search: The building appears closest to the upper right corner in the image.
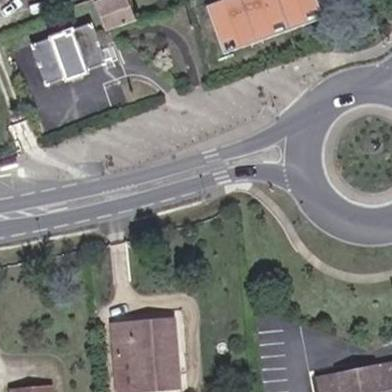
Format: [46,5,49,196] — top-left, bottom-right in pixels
[206,0,322,54]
